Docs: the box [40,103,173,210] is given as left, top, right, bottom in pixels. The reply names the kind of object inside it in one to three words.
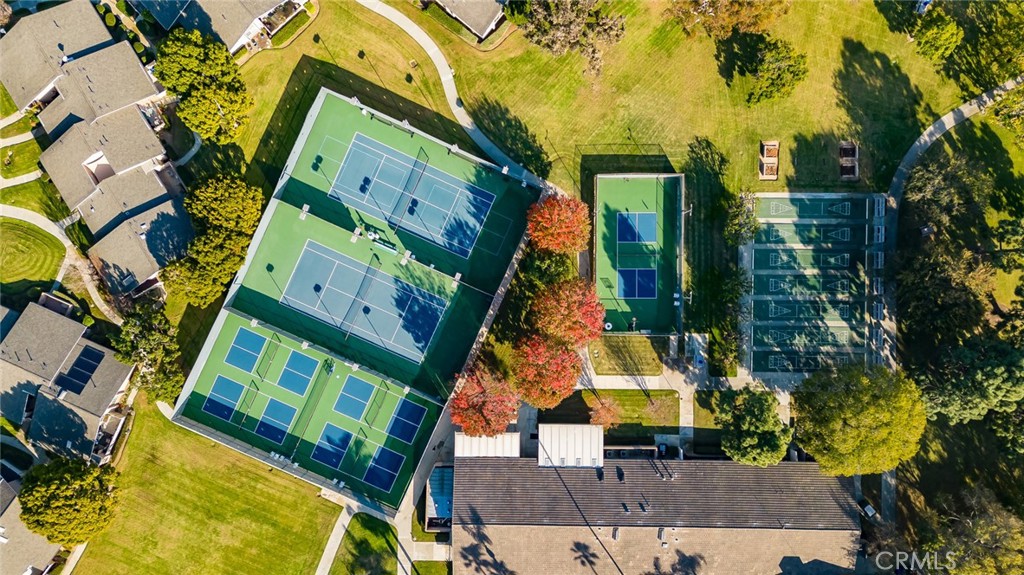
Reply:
house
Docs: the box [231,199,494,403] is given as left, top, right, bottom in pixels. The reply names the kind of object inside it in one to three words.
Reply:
tennis court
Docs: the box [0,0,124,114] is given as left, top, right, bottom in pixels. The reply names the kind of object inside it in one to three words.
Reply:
house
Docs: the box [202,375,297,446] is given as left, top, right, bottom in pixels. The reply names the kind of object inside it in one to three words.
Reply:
sports court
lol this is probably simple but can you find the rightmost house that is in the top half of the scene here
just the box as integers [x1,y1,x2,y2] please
[434,0,508,44]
